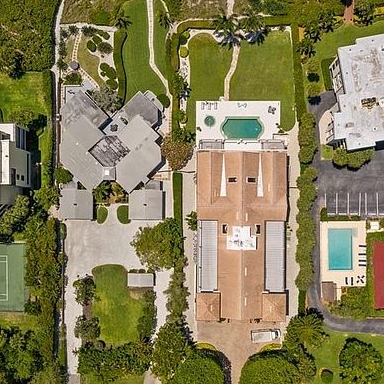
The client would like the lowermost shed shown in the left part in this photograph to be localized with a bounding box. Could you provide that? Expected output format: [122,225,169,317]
[128,273,154,287]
